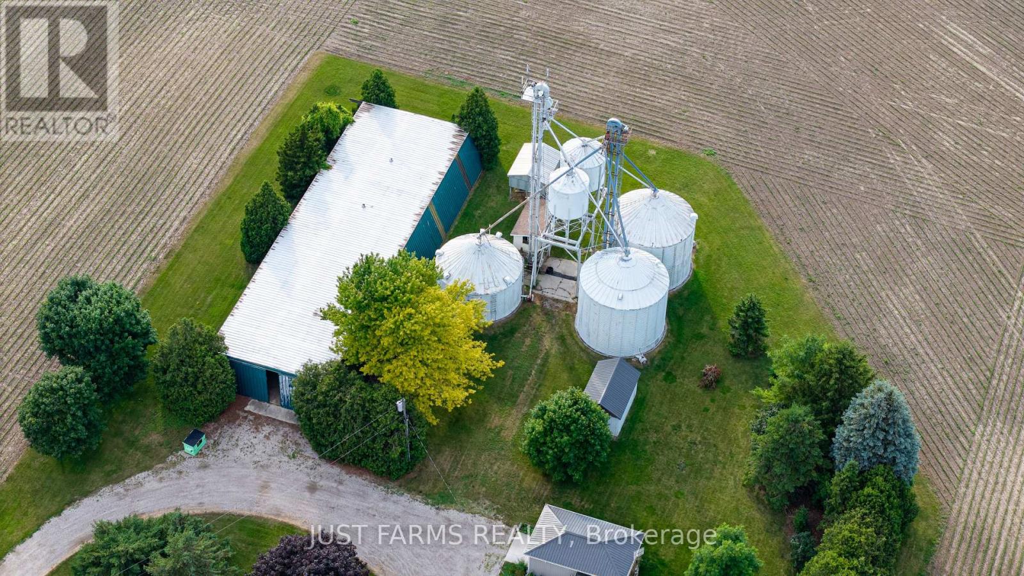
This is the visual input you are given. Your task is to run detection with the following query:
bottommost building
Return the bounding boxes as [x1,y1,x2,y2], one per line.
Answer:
[523,503,647,576]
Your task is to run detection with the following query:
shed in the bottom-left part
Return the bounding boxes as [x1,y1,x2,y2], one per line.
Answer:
[178,425,207,456]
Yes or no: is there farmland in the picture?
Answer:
Yes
